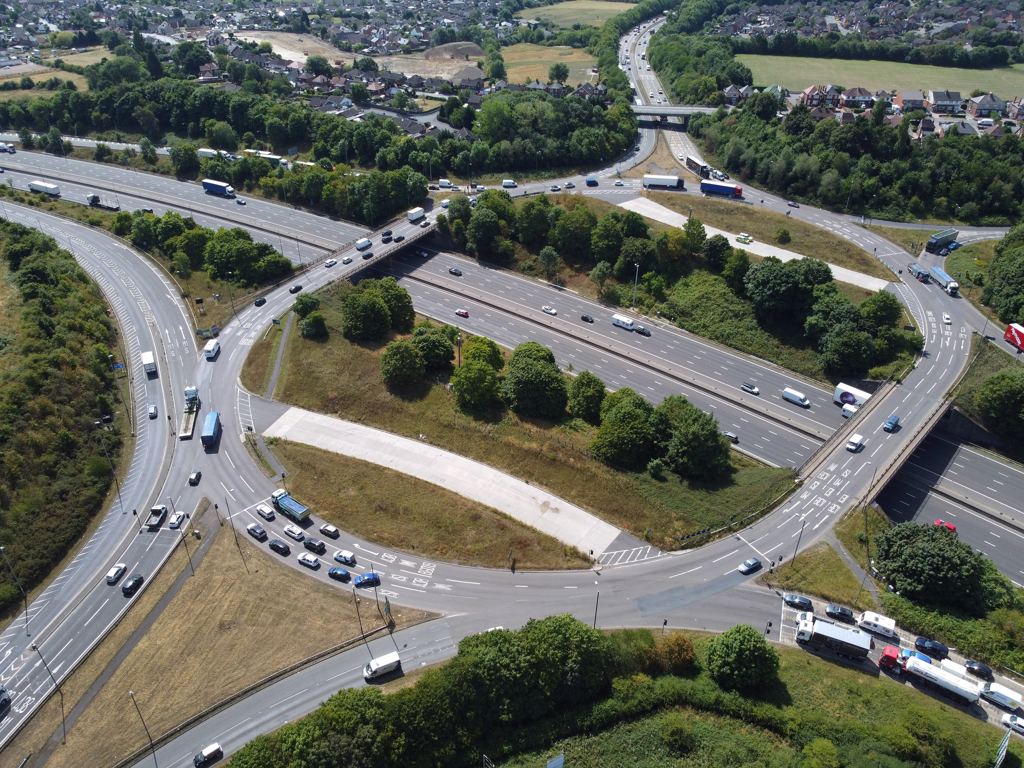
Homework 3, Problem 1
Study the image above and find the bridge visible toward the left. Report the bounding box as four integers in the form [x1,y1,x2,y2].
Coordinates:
[281,205,449,295]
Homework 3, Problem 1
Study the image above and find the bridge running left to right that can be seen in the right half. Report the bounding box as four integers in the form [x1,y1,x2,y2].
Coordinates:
[628,102,741,128]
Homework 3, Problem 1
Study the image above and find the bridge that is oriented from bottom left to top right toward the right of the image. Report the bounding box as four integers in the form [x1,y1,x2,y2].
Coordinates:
[779,362,969,532]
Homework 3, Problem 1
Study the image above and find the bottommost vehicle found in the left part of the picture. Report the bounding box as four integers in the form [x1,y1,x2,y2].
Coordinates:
[194,744,222,767]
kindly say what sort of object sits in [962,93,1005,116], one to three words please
house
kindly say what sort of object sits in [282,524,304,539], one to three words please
car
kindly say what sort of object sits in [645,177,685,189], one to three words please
vehicle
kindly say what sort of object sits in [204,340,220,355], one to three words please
camper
